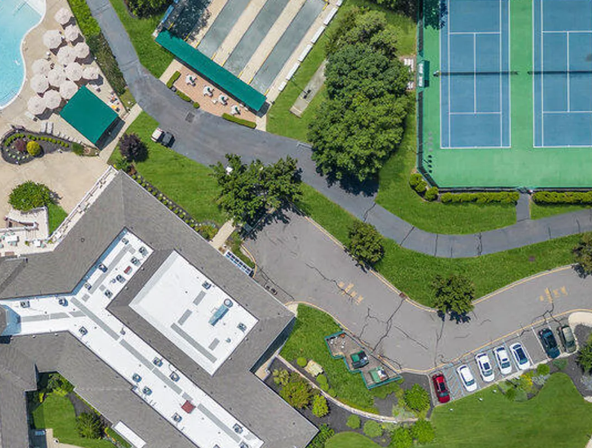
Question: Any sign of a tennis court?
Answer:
Yes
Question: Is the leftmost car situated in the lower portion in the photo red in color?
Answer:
Yes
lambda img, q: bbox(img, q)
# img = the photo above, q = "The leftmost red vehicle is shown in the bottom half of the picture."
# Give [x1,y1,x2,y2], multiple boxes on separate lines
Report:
[429,371,451,404]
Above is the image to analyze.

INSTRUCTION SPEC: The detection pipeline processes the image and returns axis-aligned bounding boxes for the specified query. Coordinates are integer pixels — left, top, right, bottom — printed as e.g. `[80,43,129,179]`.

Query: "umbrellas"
[30,76,49,93]
[58,80,79,101]
[62,23,81,43]
[48,68,67,88]
[57,47,76,65]
[31,58,51,78]
[71,41,90,60]
[44,90,62,109]
[80,62,102,83]
[64,63,81,81]
[42,29,63,50]
[26,95,47,116]
[53,5,74,27]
